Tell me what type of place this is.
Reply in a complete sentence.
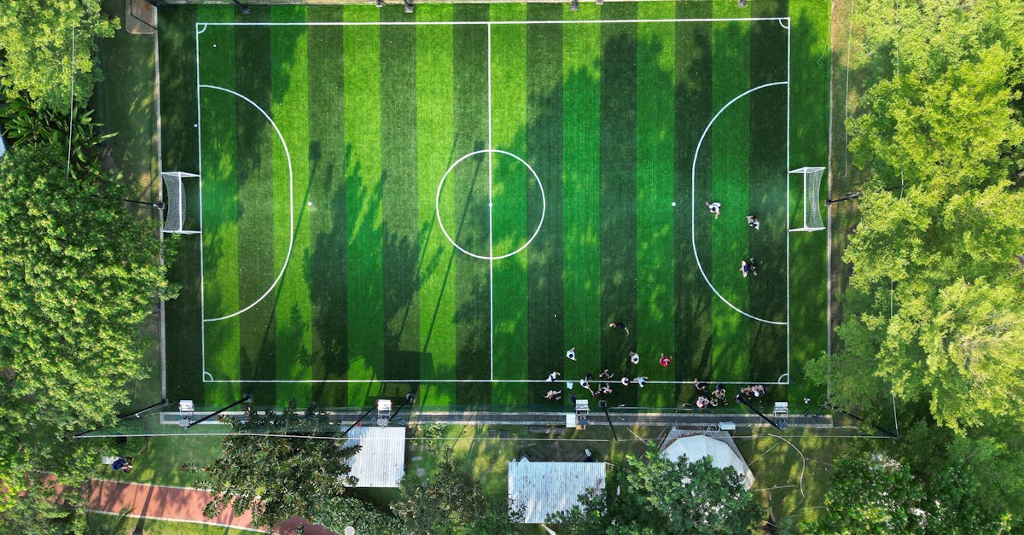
This looks like a sports ground.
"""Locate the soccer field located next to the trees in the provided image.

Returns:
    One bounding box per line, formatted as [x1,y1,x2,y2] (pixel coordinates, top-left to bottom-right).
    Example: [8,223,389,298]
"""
[162,0,829,413]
